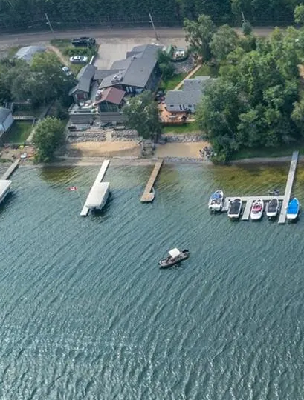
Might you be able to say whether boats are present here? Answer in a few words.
Yes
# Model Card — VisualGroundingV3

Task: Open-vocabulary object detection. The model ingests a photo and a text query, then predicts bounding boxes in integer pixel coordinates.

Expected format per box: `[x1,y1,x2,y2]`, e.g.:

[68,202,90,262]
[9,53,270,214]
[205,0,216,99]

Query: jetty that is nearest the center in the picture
[140,158,167,204]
